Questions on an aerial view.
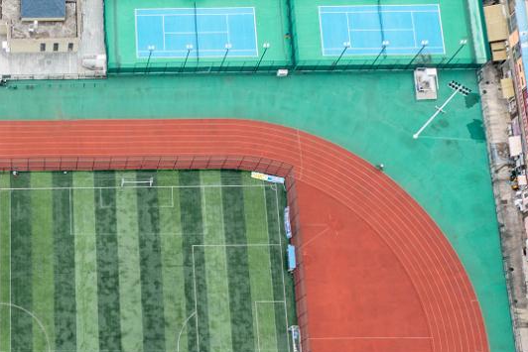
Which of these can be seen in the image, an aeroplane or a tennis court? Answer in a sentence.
Of the two, only a tennis court appears.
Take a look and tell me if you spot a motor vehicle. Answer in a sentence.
No, the frame has no motor vehicle in it.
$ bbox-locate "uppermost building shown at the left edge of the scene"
[0,0,82,52]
